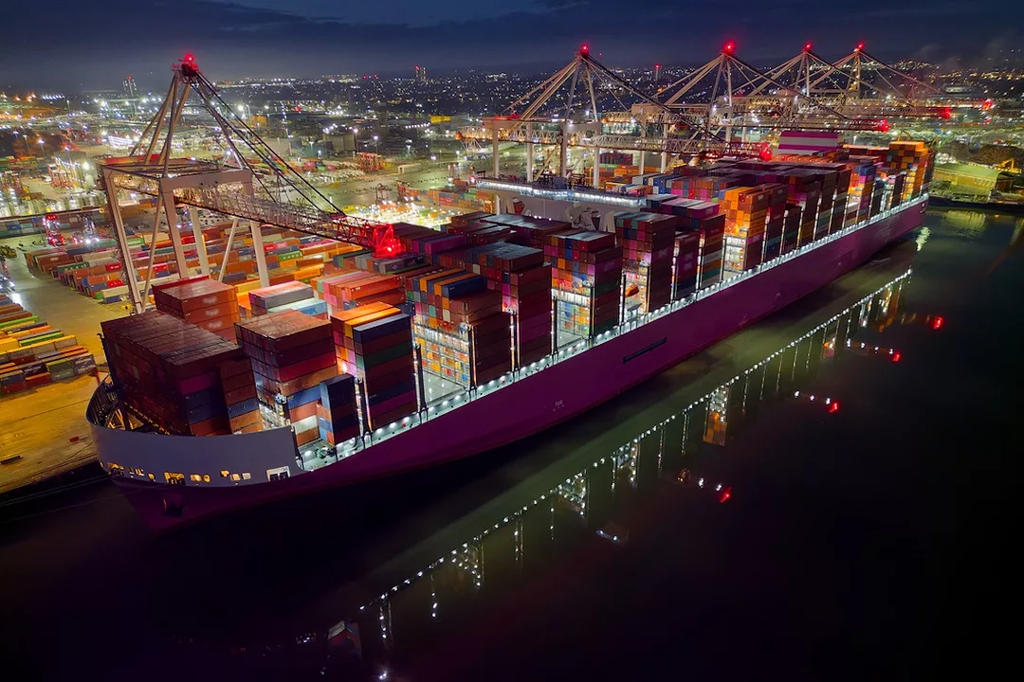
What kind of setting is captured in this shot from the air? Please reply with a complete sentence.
This looks like a port.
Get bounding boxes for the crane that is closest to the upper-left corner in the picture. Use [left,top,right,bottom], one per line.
[91,55,410,322]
